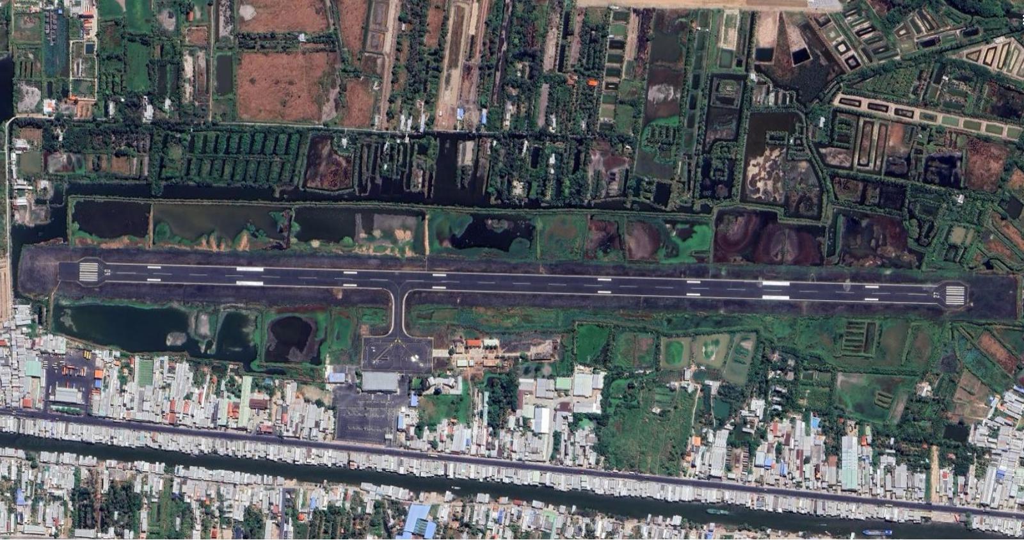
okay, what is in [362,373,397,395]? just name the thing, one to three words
building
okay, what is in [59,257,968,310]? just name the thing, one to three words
runway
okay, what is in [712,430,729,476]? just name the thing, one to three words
building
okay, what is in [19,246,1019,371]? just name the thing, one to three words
airport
